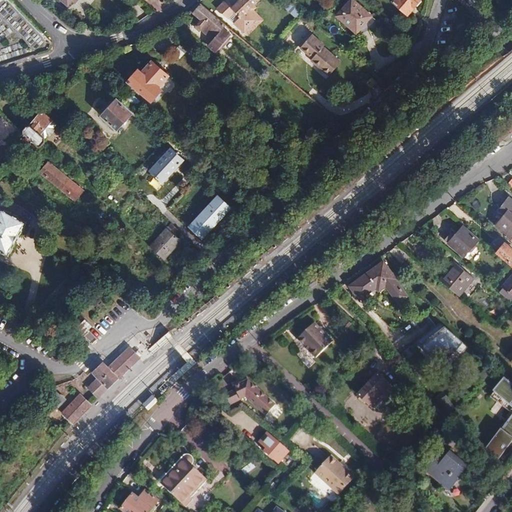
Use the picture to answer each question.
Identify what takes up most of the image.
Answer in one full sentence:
The largest share of the image is taken up by trees.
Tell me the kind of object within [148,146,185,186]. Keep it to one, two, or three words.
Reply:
house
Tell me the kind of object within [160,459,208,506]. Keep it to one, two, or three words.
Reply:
house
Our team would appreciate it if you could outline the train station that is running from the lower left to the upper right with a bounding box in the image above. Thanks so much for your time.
[58,324,236,452]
